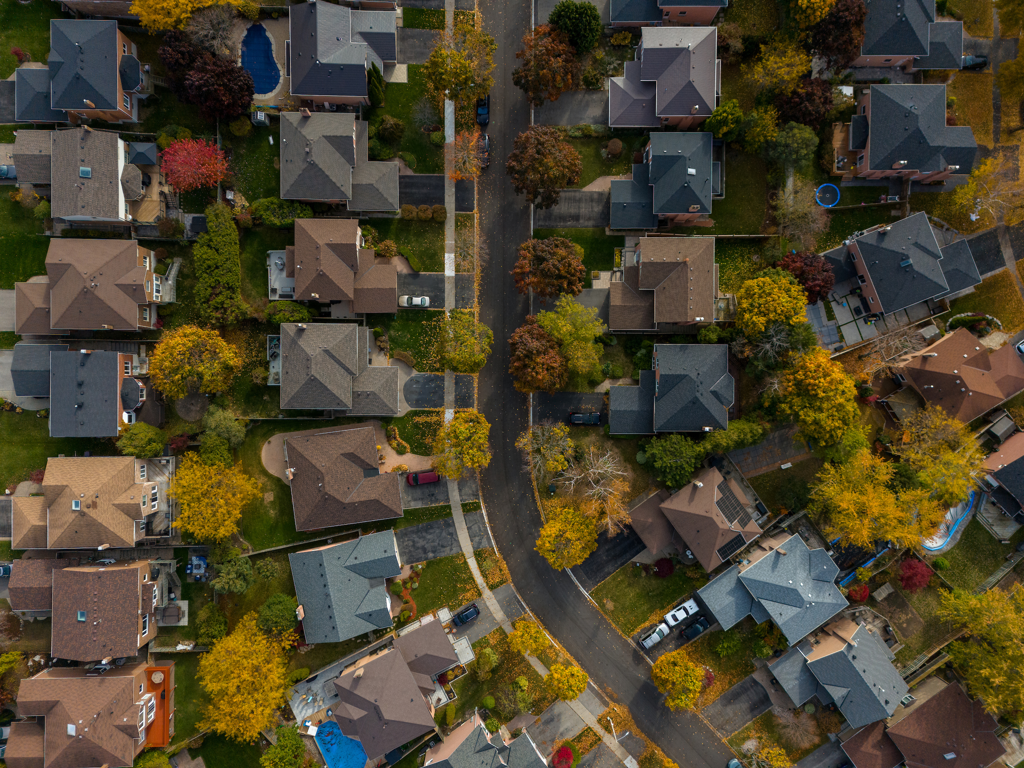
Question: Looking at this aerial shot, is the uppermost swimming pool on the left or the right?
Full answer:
It is on the left.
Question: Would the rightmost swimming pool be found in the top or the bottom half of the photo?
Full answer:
Seen from above, the rightmost swimming pool lies in the bottom half of the view.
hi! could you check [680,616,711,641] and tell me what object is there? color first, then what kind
black car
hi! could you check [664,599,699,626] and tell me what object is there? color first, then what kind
white car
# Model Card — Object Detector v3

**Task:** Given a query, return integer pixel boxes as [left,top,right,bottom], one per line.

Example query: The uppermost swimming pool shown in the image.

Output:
[237,19,285,99]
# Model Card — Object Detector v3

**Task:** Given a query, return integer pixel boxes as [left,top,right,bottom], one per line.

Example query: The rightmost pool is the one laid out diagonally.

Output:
[918,488,978,553]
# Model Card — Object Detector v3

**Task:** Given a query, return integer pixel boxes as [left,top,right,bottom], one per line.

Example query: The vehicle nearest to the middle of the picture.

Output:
[570,412,600,426]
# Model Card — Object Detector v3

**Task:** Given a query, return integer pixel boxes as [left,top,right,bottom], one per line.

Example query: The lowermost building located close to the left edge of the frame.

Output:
[0,666,150,768]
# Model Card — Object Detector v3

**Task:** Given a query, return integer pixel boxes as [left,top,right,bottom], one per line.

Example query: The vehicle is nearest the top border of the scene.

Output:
[963,54,990,70]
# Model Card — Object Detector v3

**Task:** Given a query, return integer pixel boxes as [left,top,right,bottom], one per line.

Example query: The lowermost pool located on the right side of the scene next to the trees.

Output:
[828,531,893,581]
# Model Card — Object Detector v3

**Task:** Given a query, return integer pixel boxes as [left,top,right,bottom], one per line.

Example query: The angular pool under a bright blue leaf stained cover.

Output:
[312,721,372,768]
